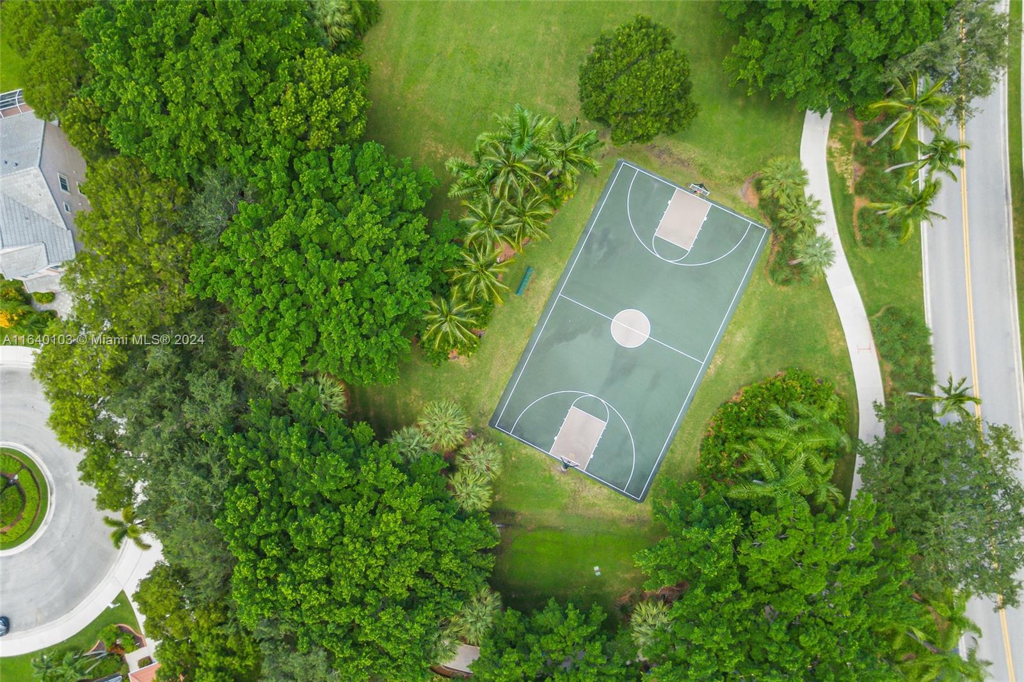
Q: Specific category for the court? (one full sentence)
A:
In the photo, the court shows up as a basketball court.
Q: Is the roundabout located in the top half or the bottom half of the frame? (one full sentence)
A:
It is in the bottom half that the roundabout appears.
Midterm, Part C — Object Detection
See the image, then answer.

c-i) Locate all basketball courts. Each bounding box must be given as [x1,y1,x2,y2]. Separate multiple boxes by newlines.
[488,157,771,504]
